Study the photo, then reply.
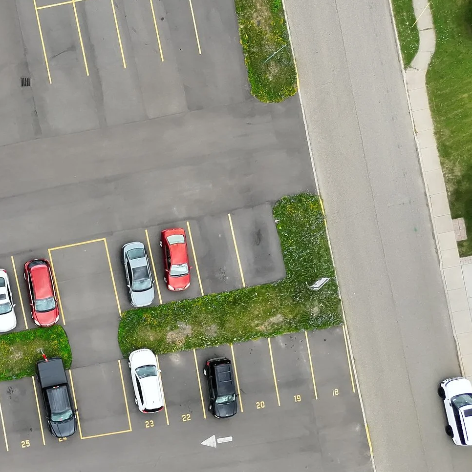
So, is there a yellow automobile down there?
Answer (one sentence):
No, there appears to be no yellow automobile in this shot.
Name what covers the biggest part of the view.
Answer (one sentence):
What you mostly see from above here is paved ground.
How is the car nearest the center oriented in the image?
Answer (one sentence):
Seen from above, the car nearest the center lies vertically.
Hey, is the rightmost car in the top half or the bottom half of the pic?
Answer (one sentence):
You can find the rightmost car in the bottom half.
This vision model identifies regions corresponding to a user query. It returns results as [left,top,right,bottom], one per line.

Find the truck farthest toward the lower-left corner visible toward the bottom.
[37,354,79,440]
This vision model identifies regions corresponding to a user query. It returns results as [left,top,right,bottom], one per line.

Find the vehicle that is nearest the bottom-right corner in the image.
[440,375,472,448]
